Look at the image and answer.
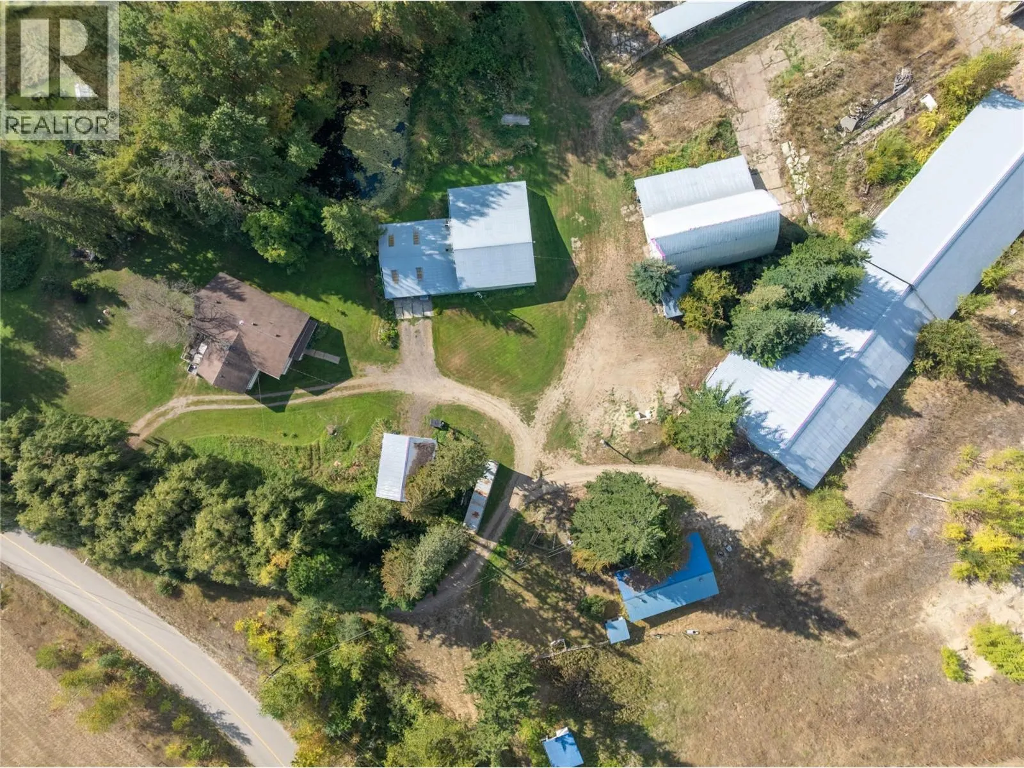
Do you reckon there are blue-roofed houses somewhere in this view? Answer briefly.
Yes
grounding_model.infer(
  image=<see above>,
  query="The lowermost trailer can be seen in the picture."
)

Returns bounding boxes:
[467,459,500,532]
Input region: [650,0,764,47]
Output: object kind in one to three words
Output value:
shed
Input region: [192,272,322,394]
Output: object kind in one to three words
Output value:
house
